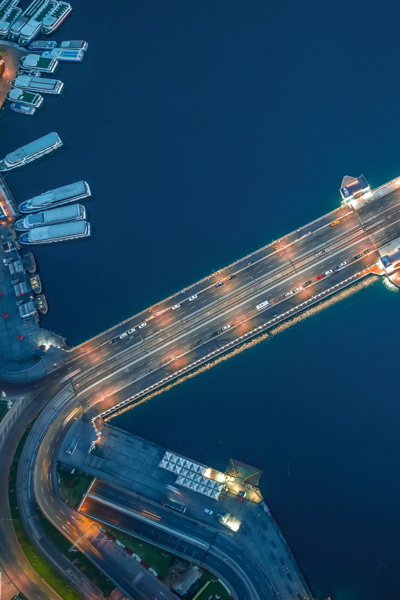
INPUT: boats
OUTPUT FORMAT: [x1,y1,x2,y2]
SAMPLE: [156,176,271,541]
[28,41,58,53]
[61,41,91,54]
[0,9,23,39]
[12,78,66,95]
[43,48,87,64]
[0,134,66,172]
[11,104,38,116]
[20,0,57,47]
[14,205,88,231]
[21,56,60,74]
[27,273,43,295]
[20,222,92,246]
[43,2,71,37]
[7,91,46,108]
[9,0,46,43]
[34,293,50,315]
[0,0,20,22]
[20,183,92,212]
[23,252,38,274]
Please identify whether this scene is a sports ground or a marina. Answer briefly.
marina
